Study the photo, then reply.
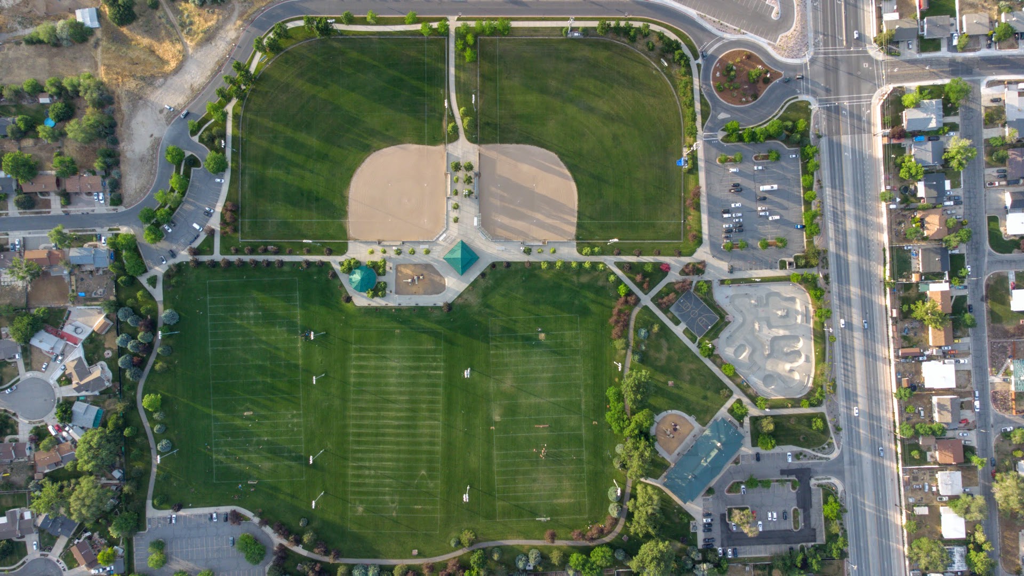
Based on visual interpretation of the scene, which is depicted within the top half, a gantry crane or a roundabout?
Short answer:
roundabout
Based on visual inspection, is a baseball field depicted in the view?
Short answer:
Yes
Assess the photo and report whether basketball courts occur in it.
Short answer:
Yes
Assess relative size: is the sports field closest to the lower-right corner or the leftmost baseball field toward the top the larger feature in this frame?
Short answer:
the baseball field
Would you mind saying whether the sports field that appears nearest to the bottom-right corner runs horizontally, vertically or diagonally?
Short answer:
vertically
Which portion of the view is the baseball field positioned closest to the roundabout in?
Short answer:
top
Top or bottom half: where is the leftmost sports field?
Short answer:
bottom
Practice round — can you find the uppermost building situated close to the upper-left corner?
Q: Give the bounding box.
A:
[77,6,102,29]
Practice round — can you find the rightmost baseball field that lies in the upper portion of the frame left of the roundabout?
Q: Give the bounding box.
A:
[478,38,682,241]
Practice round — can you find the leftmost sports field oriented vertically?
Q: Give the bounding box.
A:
[207,278,304,482]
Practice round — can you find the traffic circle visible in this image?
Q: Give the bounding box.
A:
[711,48,784,107]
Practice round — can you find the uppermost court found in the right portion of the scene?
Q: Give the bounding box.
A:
[670,290,719,338]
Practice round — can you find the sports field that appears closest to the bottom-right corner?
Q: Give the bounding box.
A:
[489,315,587,521]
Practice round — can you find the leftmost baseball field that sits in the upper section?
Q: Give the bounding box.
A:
[241,37,446,241]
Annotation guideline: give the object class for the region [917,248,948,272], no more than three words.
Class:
house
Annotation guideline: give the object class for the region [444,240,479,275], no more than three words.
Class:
building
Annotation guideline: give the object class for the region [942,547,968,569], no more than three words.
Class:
house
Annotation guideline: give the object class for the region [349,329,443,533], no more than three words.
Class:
sports field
